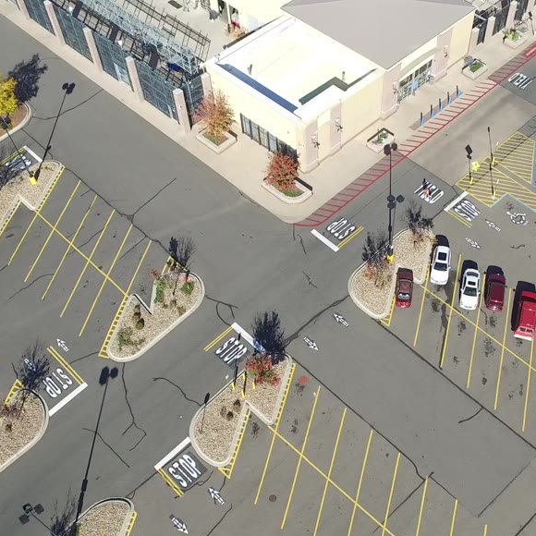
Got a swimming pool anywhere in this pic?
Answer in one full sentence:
No, there isn't any swimming pool down there.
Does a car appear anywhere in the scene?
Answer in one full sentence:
Yes, a car is visible in the scene.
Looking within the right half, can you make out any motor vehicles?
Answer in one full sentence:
Yes, a motor vehicle can be seen within the right half.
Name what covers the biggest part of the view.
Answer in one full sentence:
For the most part, this view shows paved ground.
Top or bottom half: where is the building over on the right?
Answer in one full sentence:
It is in the top half that the building over on the right appears.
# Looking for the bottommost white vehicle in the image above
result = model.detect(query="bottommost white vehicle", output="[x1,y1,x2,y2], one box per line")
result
[459,268,481,312]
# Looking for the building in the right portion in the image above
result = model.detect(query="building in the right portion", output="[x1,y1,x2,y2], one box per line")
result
[194,0,481,173]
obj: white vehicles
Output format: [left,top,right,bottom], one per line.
[459,268,481,312]
[430,245,451,286]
